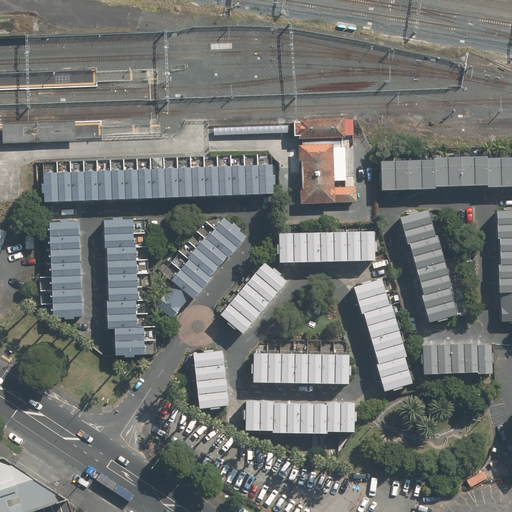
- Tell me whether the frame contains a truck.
Yes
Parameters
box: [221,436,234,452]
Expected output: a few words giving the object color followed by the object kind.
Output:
white vehicle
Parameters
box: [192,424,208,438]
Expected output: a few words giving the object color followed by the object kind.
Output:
white vehicle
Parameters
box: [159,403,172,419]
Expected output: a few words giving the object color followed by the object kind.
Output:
red vehicle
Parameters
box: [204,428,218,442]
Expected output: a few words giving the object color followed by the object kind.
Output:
white car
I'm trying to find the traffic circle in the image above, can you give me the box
[180,306,214,346]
